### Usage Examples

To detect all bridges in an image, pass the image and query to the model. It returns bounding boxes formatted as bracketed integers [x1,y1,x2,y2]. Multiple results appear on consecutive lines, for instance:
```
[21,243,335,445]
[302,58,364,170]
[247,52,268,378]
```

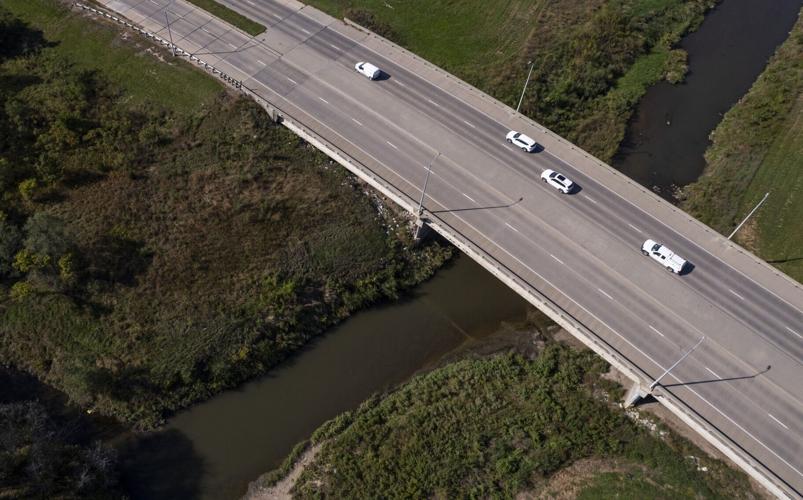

[235,16,803,500]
